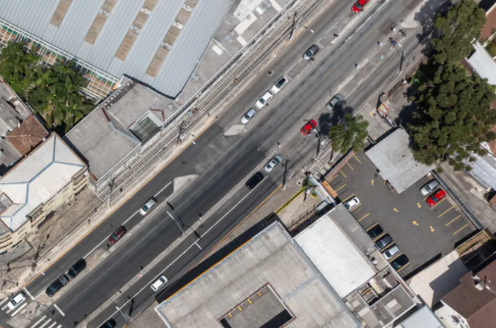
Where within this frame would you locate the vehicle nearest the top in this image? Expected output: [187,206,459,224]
[351,0,369,13]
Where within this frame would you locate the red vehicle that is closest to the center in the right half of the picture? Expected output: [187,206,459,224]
[299,117,320,137]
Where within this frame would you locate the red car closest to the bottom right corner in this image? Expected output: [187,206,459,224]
[424,189,446,208]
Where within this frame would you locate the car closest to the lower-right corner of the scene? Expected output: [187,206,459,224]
[389,254,411,271]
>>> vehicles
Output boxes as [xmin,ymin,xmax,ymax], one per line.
[150,274,169,293]
[424,189,446,208]
[108,225,128,244]
[351,0,369,13]
[237,106,259,127]
[5,290,29,312]
[243,169,265,191]
[311,199,332,216]
[381,244,401,260]
[64,257,88,279]
[343,195,362,211]
[252,89,275,109]
[101,317,119,328]
[45,274,70,297]
[137,195,161,216]
[416,179,438,198]
[374,233,394,250]
[270,74,291,95]
[300,43,322,62]
[365,222,387,241]
[389,254,411,271]
[299,117,320,137]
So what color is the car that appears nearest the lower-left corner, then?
white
